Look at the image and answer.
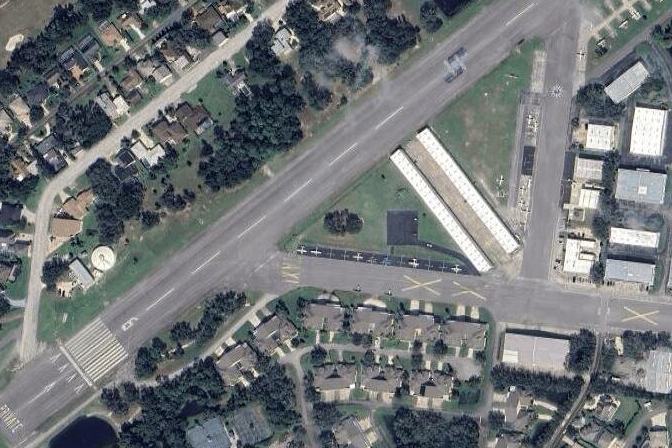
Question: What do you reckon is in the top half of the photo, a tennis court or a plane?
plane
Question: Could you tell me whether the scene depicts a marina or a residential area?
residential area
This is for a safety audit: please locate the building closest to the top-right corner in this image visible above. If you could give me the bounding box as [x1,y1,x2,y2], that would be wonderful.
[606,61,652,103]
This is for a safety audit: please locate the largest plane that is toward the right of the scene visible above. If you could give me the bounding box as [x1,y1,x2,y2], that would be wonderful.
[442,45,469,85]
